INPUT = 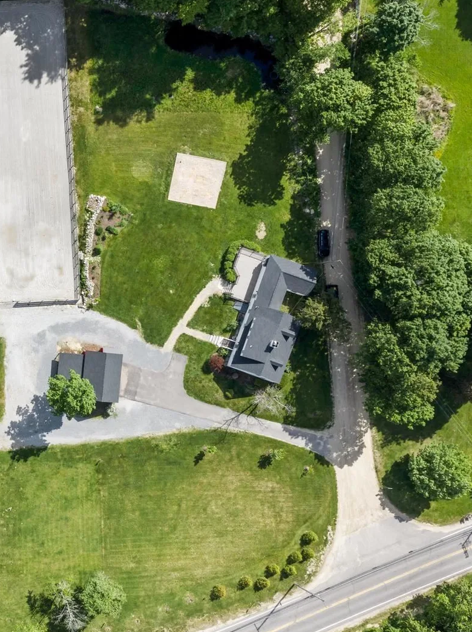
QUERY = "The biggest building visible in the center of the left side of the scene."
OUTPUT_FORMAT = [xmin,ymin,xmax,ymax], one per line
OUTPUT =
[81,346,123,403]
